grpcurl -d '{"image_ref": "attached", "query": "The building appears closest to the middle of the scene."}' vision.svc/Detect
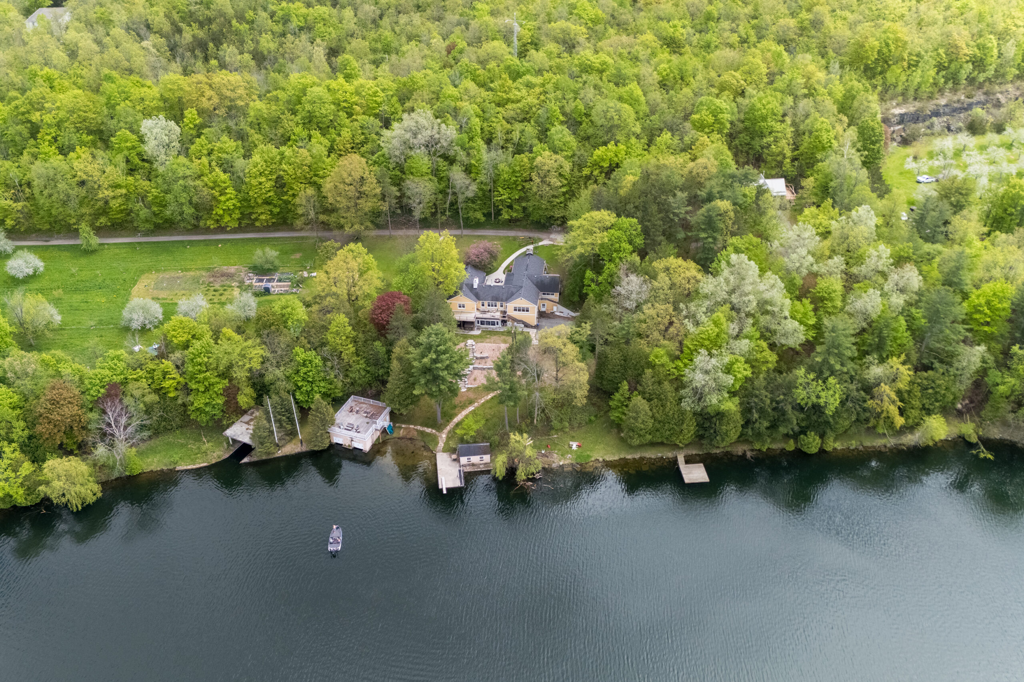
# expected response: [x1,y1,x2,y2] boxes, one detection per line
[444,253,562,330]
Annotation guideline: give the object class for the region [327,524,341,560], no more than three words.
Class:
boat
